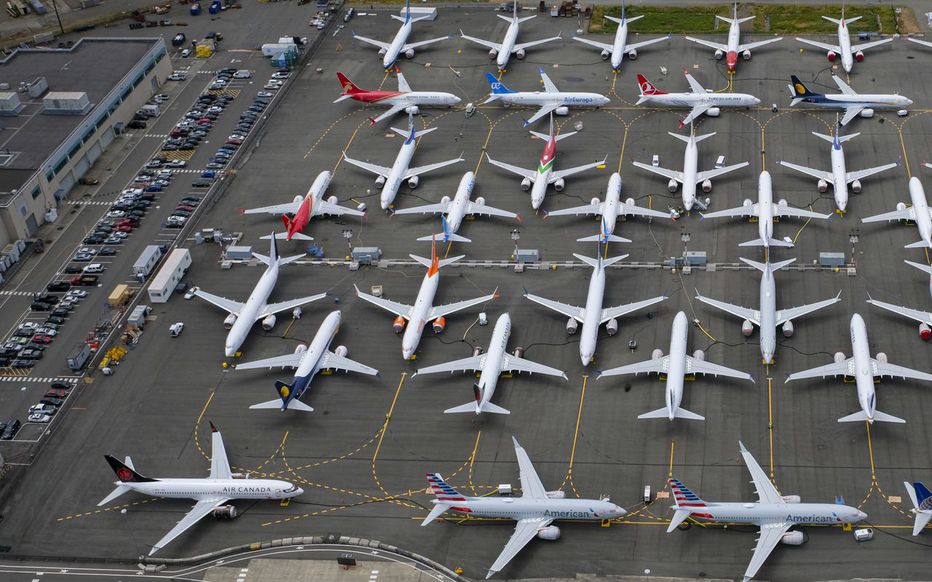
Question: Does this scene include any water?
No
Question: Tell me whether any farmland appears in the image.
No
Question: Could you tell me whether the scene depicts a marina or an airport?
airport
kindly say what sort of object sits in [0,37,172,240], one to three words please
building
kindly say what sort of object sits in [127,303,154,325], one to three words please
truck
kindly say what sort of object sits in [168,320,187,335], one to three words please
vehicle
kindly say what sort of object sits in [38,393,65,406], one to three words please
vehicle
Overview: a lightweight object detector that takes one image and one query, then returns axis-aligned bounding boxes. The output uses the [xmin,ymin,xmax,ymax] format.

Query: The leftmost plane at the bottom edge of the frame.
[94,419,302,558]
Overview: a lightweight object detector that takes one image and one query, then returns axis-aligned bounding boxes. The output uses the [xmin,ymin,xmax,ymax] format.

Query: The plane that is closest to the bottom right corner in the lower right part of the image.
[902,481,932,536]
